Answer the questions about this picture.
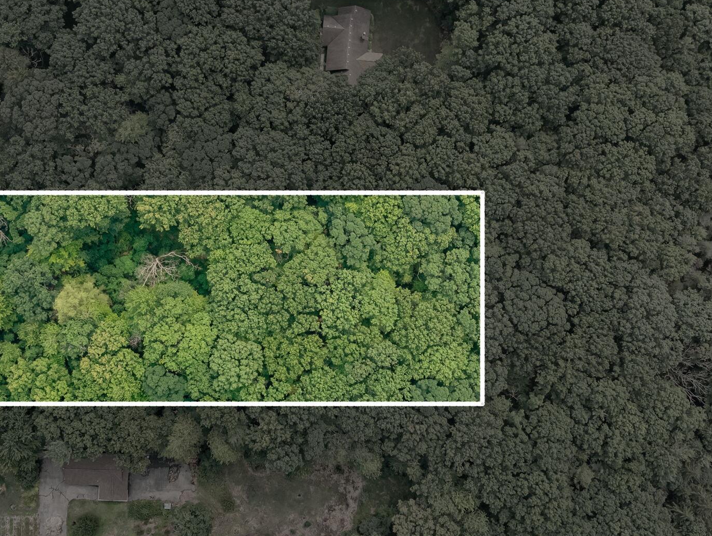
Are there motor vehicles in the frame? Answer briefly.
No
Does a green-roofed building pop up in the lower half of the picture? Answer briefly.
No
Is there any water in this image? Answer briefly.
No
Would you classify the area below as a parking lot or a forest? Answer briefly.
forest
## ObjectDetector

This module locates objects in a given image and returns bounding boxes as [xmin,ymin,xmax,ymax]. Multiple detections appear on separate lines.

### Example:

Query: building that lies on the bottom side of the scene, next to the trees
[62,455,129,503]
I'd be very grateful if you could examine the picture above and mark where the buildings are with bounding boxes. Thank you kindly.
[62,455,129,503]
[321,5,383,94]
